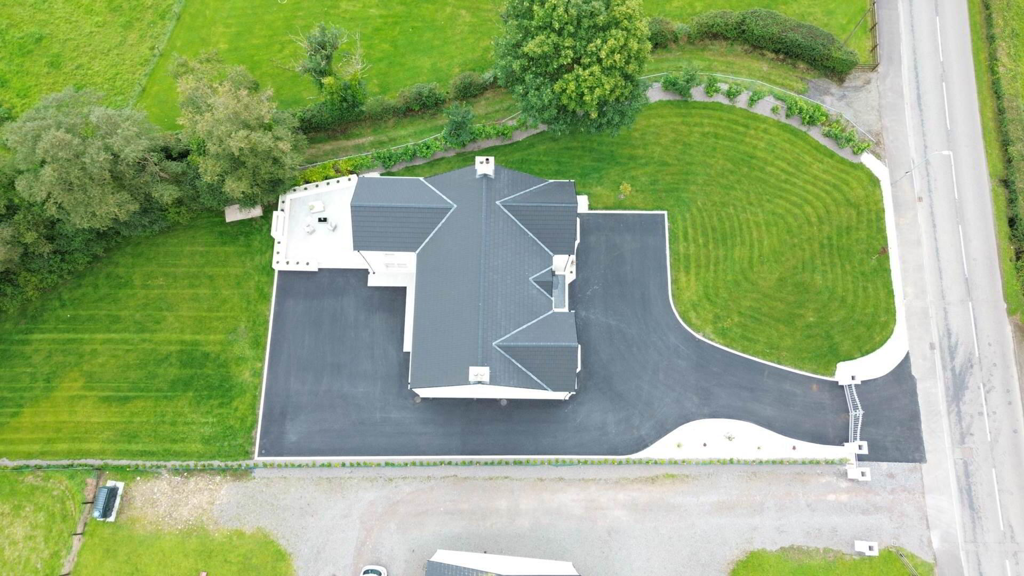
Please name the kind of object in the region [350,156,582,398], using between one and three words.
house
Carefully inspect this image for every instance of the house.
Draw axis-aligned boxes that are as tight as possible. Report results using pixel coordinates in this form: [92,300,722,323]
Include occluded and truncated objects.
[423,551,582,576]
[350,156,582,398]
